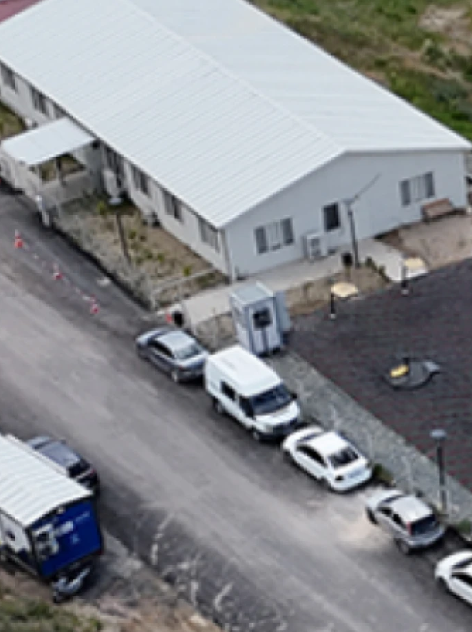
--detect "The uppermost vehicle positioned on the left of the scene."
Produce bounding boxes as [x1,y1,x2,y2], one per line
[133,332,207,392]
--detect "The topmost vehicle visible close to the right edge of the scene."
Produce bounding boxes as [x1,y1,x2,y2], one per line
[362,496,452,562]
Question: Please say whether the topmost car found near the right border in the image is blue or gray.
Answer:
gray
